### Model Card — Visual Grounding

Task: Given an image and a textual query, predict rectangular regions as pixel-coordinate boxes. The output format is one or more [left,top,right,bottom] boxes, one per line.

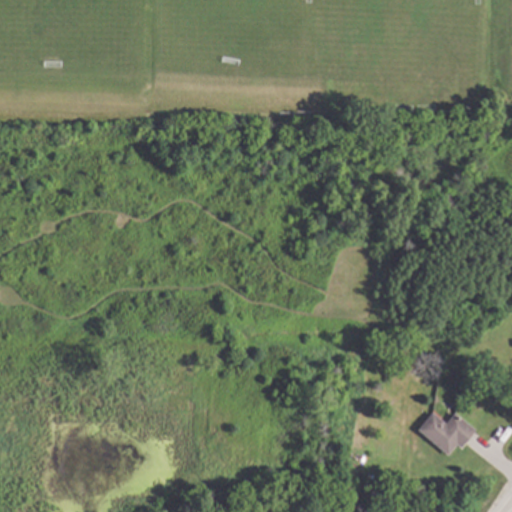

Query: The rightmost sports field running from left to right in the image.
[151,0,488,116]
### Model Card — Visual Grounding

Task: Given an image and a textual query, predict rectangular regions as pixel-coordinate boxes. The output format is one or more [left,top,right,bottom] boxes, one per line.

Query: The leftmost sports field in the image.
[0,0,151,120]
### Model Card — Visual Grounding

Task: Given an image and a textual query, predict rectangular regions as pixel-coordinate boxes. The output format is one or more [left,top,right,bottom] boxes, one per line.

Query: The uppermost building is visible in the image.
[420,413,476,456]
